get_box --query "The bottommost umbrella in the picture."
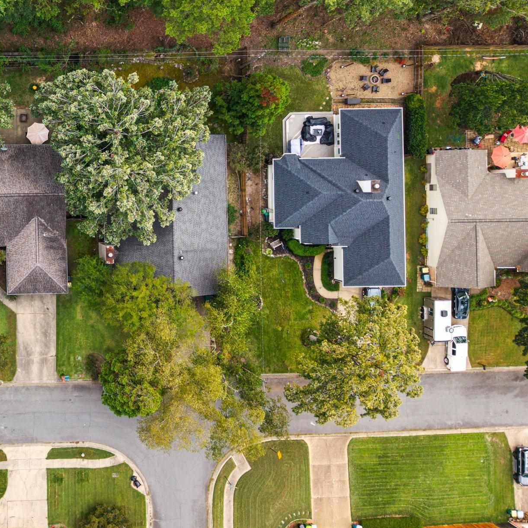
[488,146,512,167]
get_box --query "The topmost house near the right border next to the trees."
[427,149,528,287]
